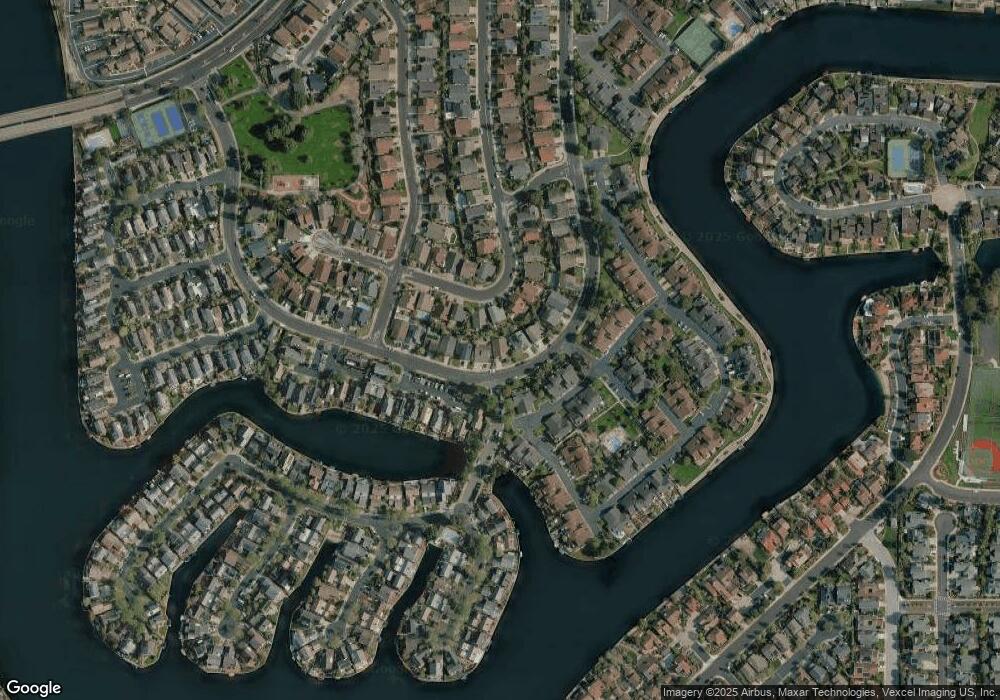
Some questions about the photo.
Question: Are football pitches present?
No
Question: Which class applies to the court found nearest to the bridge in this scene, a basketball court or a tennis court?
tennis court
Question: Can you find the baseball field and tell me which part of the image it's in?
right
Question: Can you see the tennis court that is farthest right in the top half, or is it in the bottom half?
top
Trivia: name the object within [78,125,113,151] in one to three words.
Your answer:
swimming pool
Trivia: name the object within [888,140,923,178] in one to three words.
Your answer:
tennis court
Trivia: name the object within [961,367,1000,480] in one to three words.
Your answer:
baseball field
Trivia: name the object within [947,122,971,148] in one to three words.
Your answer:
house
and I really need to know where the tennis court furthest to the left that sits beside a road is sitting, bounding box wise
[132,99,185,147]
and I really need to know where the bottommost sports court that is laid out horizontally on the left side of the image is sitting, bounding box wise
[272,176,319,191]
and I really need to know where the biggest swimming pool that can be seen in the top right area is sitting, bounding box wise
[719,16,745,39]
